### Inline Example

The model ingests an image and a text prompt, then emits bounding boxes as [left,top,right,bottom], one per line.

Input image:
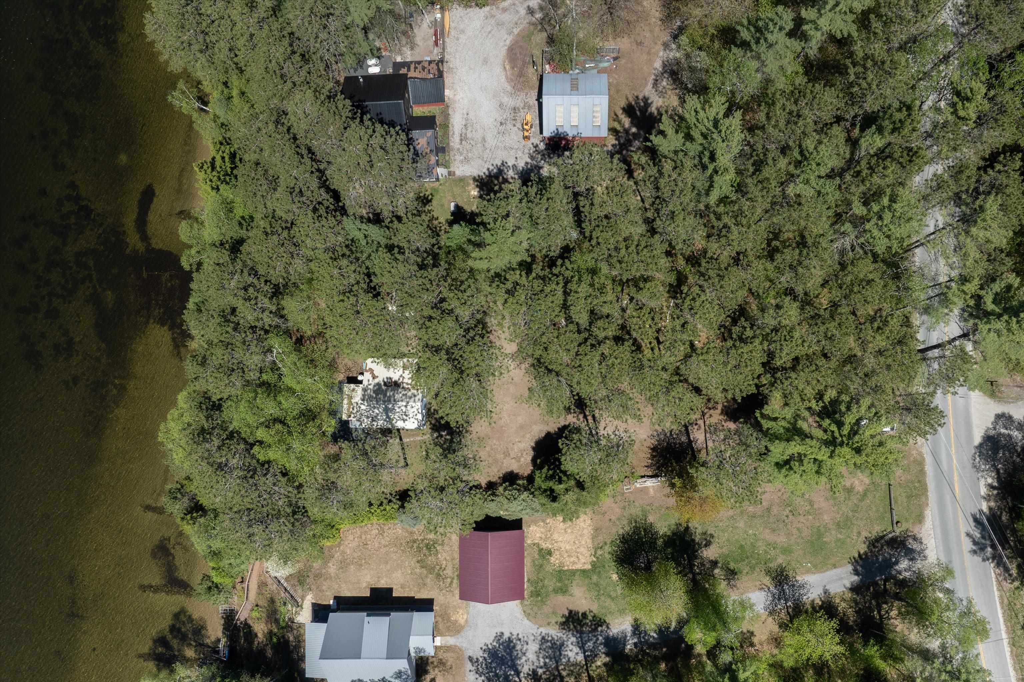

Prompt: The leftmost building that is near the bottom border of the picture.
[305,611,435,682]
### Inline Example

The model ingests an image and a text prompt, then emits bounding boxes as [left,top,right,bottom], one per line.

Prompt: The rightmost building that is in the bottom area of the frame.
[459,530,525,605]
